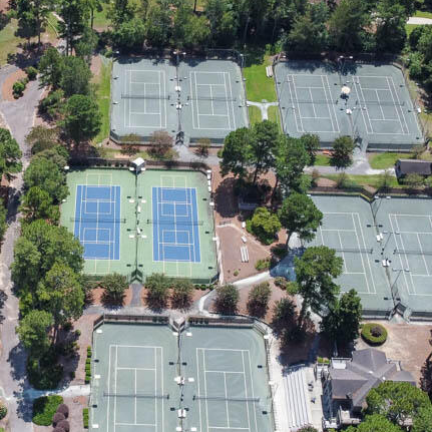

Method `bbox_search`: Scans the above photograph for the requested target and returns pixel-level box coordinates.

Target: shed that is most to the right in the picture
[392,160,432,184]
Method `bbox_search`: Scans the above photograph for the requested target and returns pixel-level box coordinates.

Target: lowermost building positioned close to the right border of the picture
[306,343,419,432]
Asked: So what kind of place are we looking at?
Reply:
sports ground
